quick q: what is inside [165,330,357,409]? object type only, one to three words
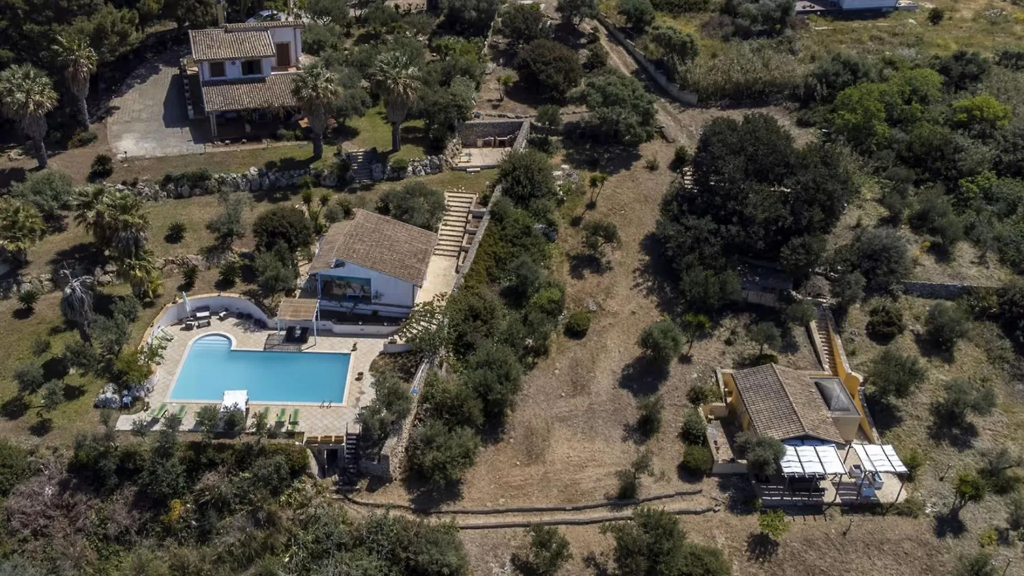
swimming pool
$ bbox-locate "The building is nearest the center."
[304,209,435,322]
